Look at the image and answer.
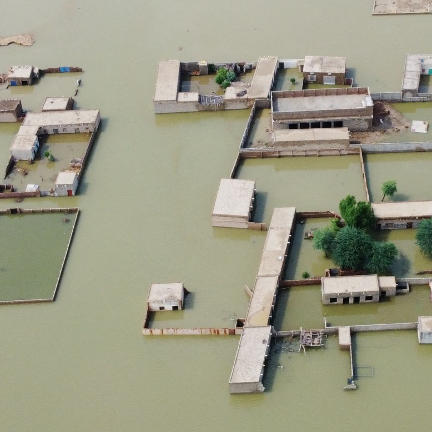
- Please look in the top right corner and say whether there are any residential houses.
Yes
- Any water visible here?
Yes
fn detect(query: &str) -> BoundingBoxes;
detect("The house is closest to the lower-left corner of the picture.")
[148,282,184,311]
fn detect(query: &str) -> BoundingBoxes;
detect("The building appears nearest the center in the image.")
[211,179,257,228]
